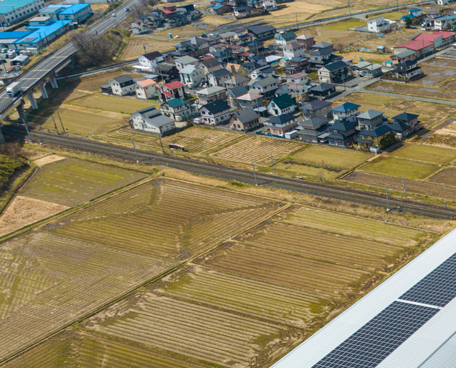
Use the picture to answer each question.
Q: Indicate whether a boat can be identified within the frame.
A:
No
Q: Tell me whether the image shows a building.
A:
Yes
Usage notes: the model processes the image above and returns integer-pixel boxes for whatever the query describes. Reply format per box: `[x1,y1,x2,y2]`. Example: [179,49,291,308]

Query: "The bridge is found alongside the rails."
[0,0,145,119]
